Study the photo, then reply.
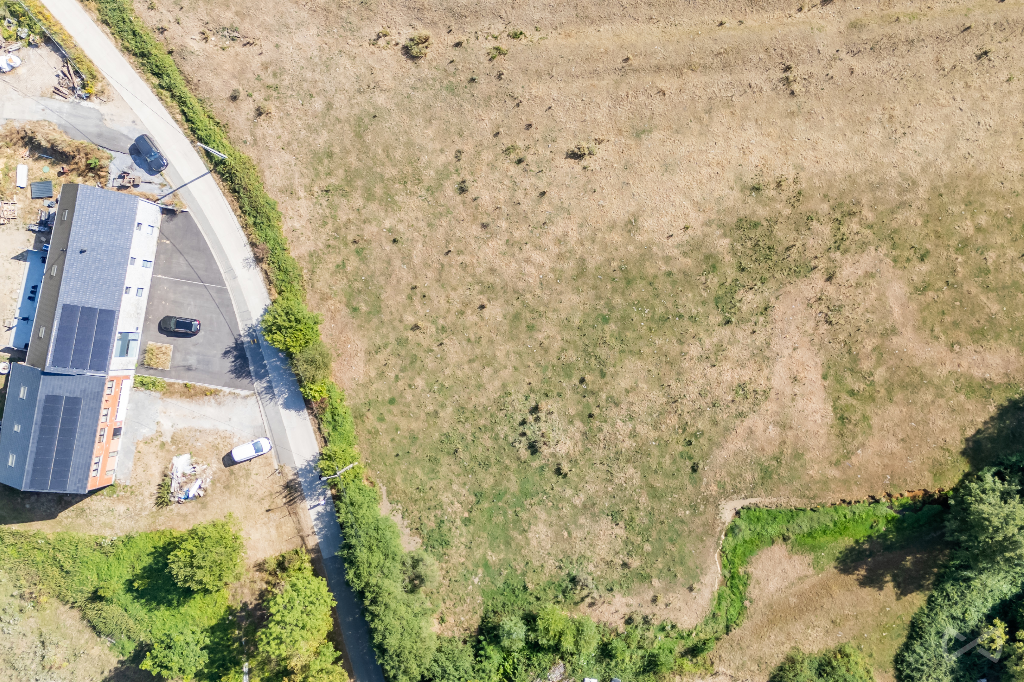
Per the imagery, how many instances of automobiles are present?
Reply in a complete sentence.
Looking from above, you can make out 3 automobiles.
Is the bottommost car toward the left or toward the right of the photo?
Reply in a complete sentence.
The bottommost car is on the left side of the image.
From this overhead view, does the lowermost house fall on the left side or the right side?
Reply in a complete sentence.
The lowermost house is on the left side of the image.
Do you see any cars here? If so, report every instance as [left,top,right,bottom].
[131,129,171,174]
[230,436,276,464]
[160,313,204,337]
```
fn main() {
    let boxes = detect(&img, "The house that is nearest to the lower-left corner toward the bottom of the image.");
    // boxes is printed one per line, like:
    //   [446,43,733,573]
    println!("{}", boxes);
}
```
[0,361,132,495]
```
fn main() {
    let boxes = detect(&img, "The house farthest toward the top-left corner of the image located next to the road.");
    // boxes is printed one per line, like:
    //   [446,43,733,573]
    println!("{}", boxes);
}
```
[29,183,163,378]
